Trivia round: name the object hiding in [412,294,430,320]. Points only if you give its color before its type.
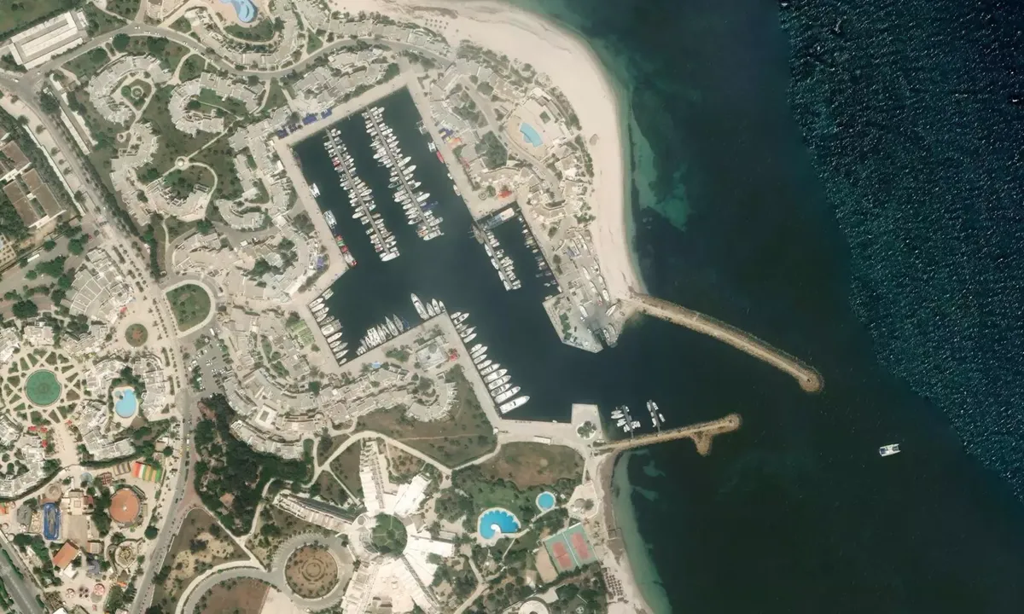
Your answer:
white boat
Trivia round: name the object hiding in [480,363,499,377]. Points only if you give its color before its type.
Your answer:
white boat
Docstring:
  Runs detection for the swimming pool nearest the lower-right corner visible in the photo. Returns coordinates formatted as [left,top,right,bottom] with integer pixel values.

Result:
[536,492,556,512]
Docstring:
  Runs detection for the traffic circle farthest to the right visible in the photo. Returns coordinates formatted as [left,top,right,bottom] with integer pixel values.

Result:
[273,531,352,609]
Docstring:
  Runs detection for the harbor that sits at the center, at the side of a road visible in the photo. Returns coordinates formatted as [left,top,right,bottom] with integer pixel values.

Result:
[283,74,602,460]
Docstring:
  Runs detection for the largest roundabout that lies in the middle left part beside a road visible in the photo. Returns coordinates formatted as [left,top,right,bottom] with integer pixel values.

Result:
[167,283,212,338]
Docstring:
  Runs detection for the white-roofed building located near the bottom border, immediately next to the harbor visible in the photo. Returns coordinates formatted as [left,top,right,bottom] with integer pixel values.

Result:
[273,441,455,614]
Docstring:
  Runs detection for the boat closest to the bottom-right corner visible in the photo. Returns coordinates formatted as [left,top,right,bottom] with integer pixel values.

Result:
[878,443,900,457]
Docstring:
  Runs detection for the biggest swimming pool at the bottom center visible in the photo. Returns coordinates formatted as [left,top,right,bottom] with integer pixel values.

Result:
[477,508,521,541]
